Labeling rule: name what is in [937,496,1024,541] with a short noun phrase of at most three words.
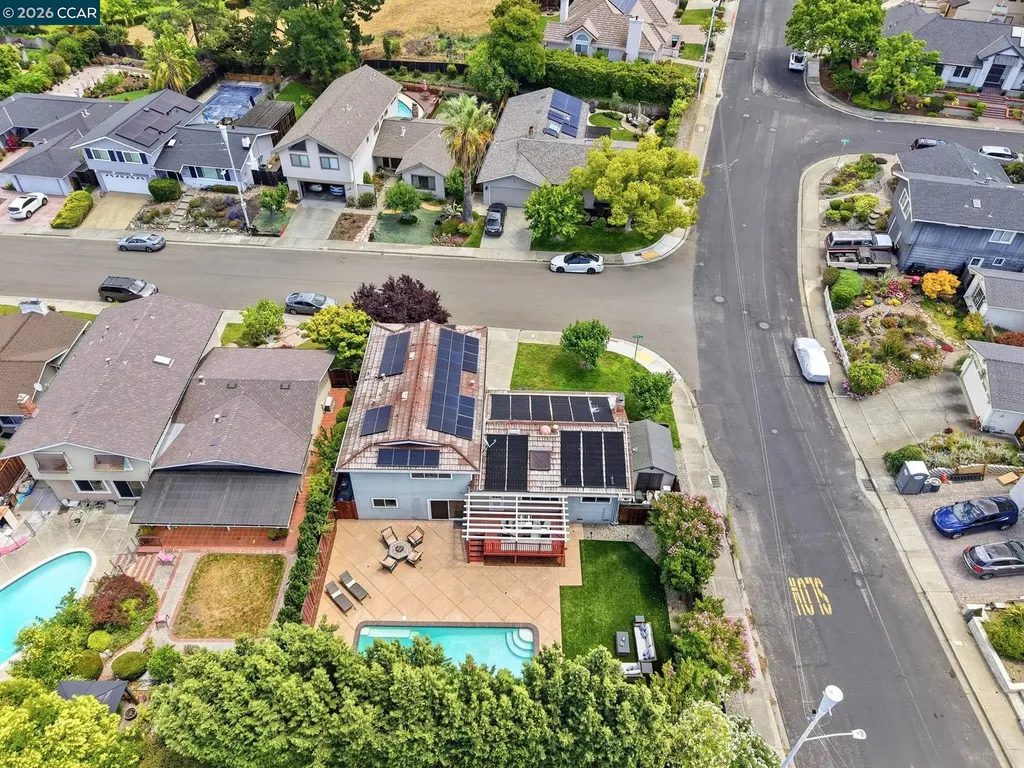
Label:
car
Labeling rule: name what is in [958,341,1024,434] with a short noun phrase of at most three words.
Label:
building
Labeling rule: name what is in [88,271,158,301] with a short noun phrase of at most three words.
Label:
car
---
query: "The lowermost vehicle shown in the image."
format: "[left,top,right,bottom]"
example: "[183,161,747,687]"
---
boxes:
[966,539,1024,585]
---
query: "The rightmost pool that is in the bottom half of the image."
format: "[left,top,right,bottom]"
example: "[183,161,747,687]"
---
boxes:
[358,628,532,695]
